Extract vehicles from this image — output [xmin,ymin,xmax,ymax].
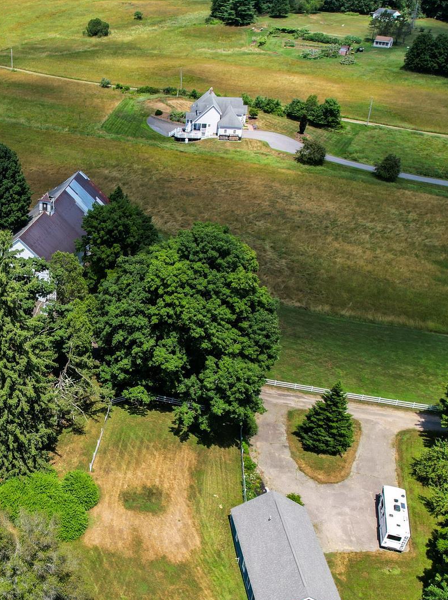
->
[355,47,363,53]
[372,488,407,557]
